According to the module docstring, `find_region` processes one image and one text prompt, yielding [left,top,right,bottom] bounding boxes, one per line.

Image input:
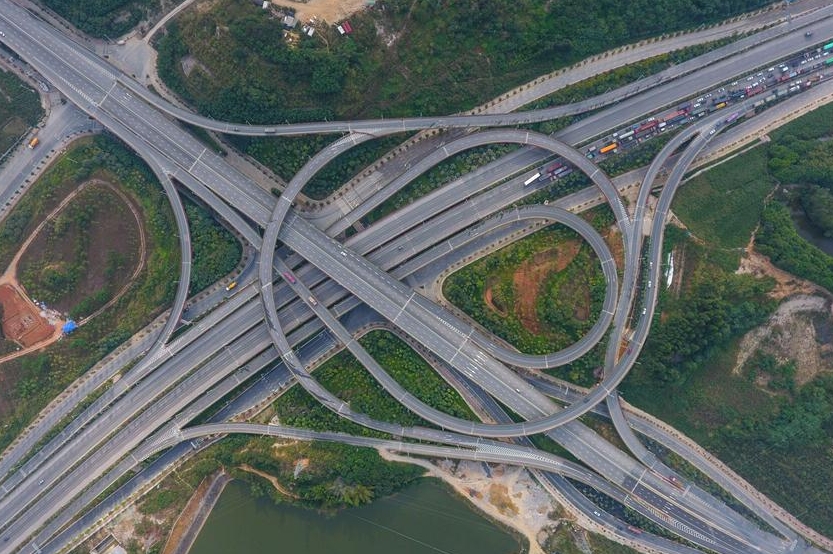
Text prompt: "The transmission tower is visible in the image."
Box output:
[292,456,308,478]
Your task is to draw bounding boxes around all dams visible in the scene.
[158,465,231,554]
